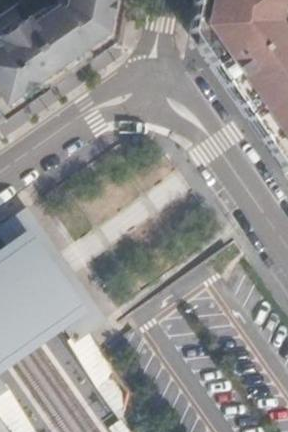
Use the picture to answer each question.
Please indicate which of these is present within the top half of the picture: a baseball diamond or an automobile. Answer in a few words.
automobile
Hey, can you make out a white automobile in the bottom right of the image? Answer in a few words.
Yes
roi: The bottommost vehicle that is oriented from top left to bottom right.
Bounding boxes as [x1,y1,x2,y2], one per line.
[260,252,277,272]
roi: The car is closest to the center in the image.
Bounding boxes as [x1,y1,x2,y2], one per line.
[200,169,217,189]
